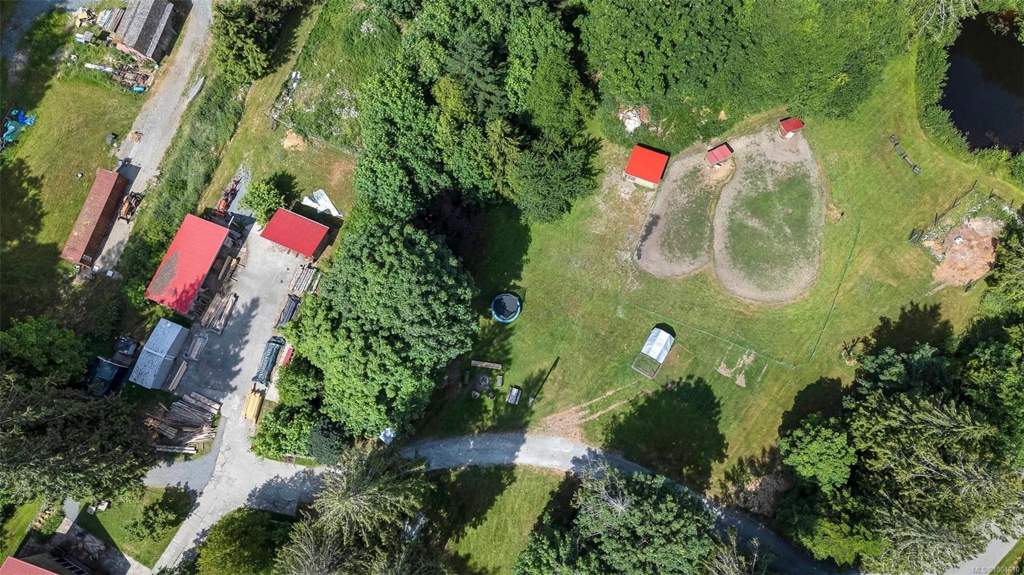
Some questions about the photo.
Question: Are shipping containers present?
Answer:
Yes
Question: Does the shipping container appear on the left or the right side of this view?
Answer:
left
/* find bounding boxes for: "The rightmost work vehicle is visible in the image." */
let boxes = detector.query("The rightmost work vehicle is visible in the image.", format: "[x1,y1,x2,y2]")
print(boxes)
[214,175,232,215]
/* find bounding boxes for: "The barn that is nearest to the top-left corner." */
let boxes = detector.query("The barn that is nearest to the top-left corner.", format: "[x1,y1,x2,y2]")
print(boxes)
[114,0,193,71]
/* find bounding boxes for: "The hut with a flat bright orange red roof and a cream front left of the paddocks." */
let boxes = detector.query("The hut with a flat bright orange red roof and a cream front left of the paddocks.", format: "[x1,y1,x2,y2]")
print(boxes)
[624,144,670,185]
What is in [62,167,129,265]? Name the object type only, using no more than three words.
shipping container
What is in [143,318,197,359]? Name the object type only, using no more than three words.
shed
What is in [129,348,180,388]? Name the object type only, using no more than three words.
shed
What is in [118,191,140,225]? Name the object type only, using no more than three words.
work vehicle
